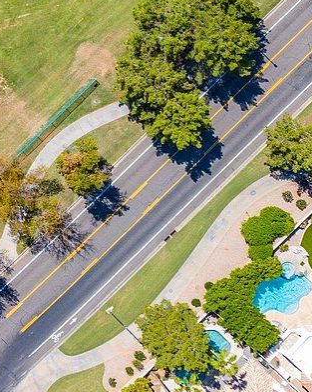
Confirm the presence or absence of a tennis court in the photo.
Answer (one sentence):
No, I find no tennis court anywhere in the image.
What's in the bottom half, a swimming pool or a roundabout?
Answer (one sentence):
The one visible in the bottom half is a swimming pool.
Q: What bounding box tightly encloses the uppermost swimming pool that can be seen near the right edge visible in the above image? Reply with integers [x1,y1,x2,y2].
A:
[252,263,312,316]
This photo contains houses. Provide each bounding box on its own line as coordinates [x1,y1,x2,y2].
[280,332,312,392]
[207,356,290,392]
